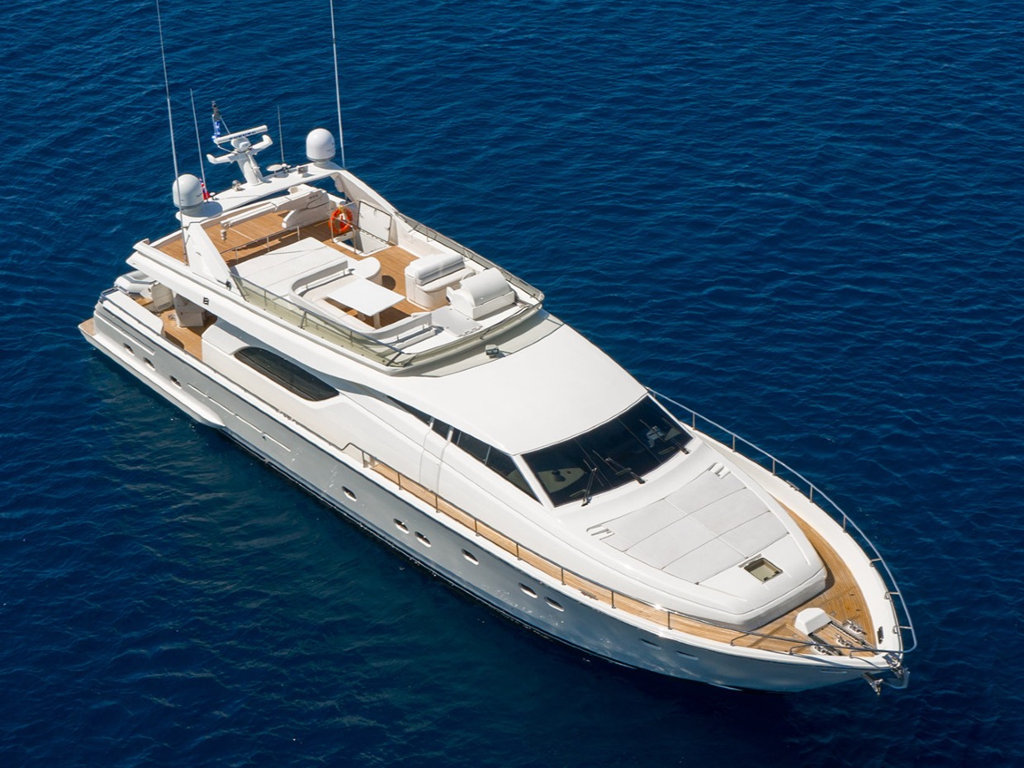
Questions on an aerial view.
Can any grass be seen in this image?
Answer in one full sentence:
No, no grass is visible.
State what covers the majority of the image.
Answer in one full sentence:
The bulk of the photo consists of water.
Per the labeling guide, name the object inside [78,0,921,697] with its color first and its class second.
white boat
